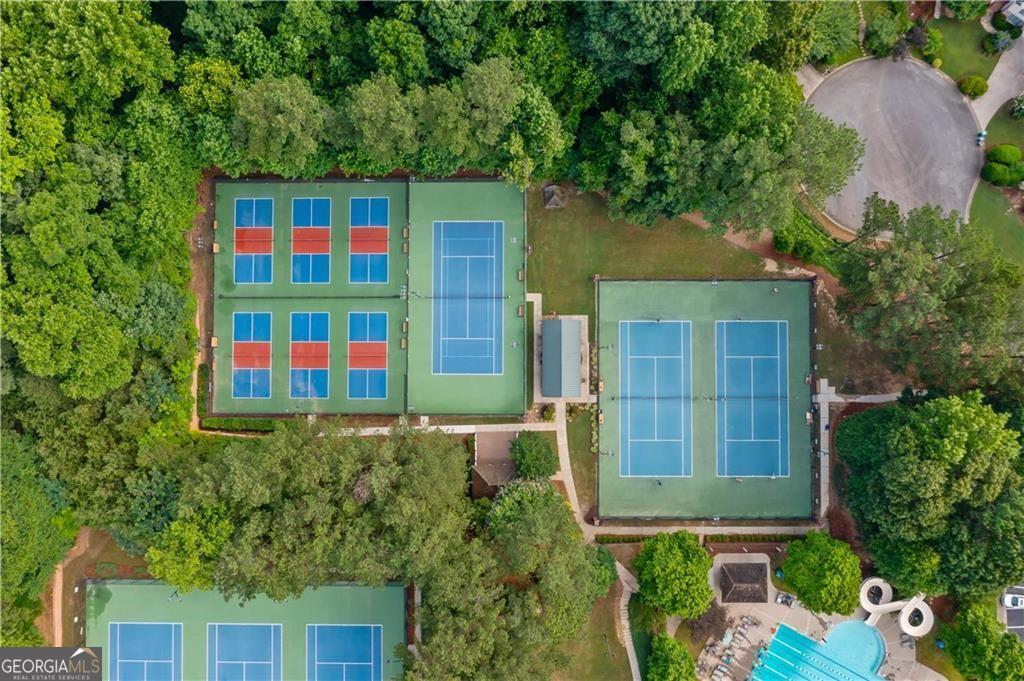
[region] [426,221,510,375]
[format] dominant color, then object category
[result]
blue tennis court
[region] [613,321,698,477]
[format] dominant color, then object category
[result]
blue tennis court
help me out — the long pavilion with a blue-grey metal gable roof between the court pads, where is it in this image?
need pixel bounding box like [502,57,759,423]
[541,319,581,398]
